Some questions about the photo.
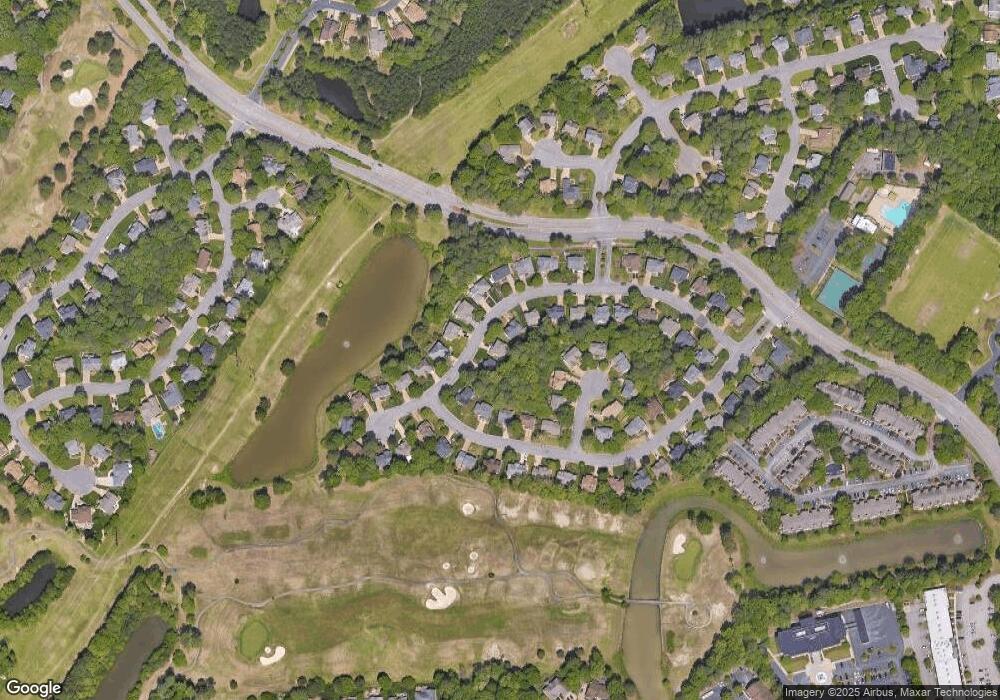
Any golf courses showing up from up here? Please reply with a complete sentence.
Yes, the frame does contain a golf course.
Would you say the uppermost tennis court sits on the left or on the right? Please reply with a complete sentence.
The uppermost tennis court appears in the right half of the scene.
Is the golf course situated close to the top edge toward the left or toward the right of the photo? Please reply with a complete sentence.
The golf course situated close to the top edge appears in the left half of the scene.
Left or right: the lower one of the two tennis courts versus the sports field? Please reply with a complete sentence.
The lower one of the two tennis courts is to the left of the sports field.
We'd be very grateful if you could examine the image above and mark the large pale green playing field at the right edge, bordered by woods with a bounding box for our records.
[882,206,1000,347]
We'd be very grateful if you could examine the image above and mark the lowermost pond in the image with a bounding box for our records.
[96,617,167,700]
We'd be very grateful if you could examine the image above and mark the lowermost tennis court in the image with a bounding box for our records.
[816,268,866,314]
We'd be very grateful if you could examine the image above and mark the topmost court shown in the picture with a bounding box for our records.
[864,242,891,269]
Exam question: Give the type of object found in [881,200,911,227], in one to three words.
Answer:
swimming pool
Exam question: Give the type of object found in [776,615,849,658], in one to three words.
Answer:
building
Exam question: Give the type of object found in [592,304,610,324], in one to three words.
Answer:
house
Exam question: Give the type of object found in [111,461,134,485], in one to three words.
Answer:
house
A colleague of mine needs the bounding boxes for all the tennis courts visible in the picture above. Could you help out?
[864,242,891,269]
[816,268,866,314]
